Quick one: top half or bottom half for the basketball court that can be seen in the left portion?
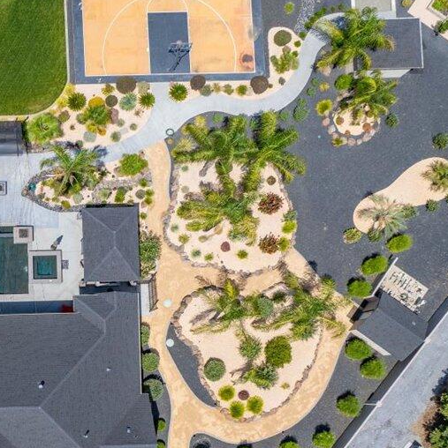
top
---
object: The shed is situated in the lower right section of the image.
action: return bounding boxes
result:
[342,292,428,363]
